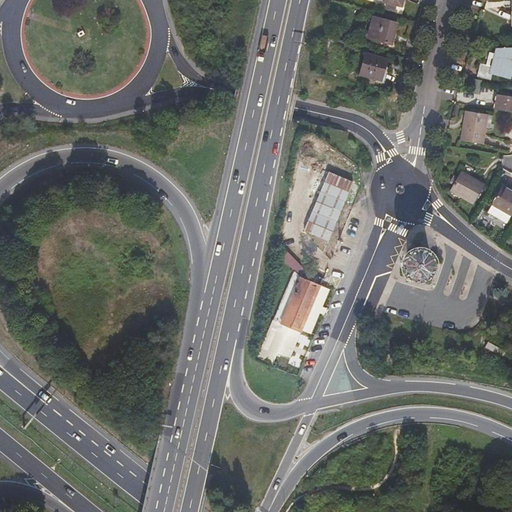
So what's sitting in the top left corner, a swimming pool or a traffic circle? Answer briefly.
traffic circle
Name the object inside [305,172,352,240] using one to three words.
building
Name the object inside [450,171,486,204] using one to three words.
house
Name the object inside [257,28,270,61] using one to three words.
vehicle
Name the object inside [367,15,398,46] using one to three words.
house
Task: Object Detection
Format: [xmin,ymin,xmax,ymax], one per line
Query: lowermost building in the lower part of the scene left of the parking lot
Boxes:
[258,271,330,367]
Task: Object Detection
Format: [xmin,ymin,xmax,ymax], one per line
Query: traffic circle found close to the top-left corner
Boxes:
[2,0,170,118]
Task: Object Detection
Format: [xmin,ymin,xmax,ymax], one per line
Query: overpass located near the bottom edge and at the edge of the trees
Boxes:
[141,434,220,512]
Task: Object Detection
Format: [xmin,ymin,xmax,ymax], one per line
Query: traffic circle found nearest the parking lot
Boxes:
[371,154,440,236]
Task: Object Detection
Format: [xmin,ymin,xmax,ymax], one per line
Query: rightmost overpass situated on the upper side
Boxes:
[232,76,300,131]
